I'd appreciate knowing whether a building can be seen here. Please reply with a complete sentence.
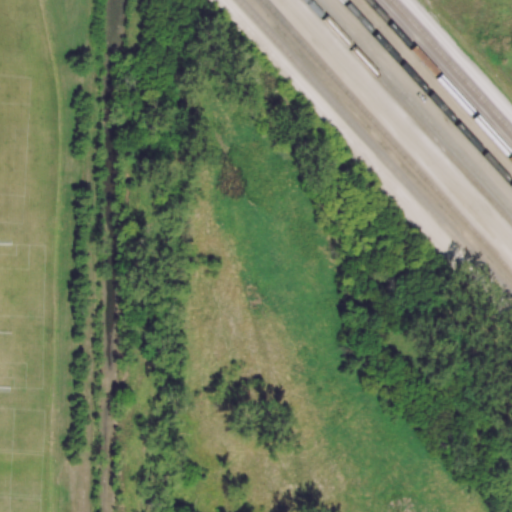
No, I can't see a single building in this photo.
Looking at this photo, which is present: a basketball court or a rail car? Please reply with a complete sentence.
Visible in the photo is a rail car.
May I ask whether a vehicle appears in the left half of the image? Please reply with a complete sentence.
No, the scene shows no vehicle in the left half of the image.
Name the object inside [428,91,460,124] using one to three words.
rail car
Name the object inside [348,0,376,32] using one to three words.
rail car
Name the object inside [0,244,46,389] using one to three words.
sports field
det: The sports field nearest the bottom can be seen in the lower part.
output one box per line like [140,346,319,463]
[0,408,46,512]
